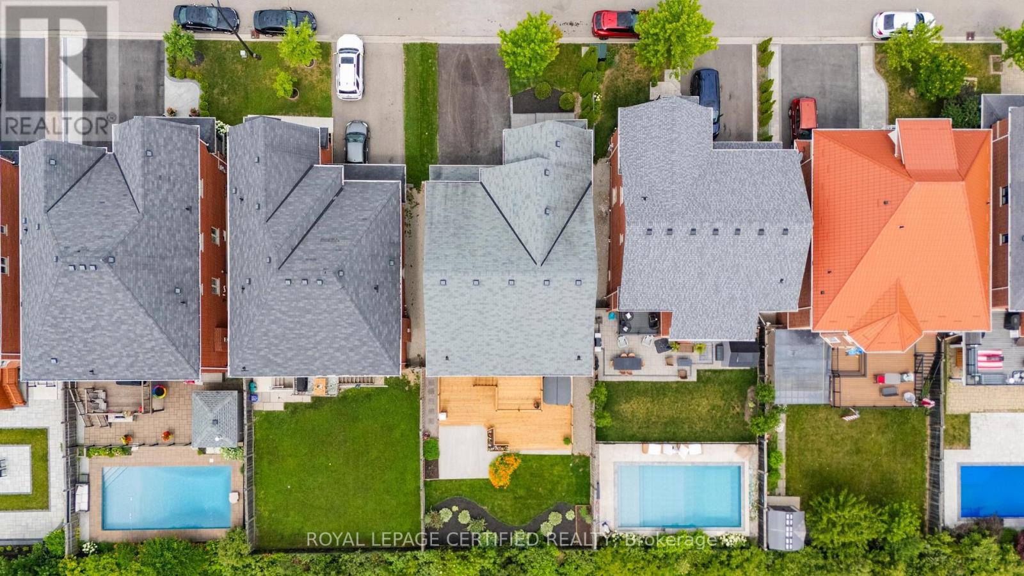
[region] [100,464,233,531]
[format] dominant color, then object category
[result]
blue swimming pool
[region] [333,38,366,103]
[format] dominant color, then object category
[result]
white car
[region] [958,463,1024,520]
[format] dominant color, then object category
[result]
blue swimming pool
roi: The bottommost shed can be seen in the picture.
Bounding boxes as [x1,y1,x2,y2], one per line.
[767,506,803,551]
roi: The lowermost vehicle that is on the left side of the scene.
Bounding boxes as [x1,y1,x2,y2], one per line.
[341,120,371,163]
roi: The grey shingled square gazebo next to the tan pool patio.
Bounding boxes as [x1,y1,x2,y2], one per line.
[191,390,244,448]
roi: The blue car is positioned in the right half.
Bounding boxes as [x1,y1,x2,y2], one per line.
[689,70,722,140]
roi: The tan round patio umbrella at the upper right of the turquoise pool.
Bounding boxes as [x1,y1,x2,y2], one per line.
[732,442,752,459]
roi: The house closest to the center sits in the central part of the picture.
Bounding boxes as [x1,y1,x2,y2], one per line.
[423,118,598,377]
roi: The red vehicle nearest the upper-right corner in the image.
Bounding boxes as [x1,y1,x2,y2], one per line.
[785,97,817,140]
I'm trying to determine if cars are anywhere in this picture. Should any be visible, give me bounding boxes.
[254,7,318,40]
[341,120,371,163]
[588,8,649,43]
[689,70,722,140]
[785,97,817,140]
[333,38,366,103]
[869,10,931,44]
[174,4,242,37]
